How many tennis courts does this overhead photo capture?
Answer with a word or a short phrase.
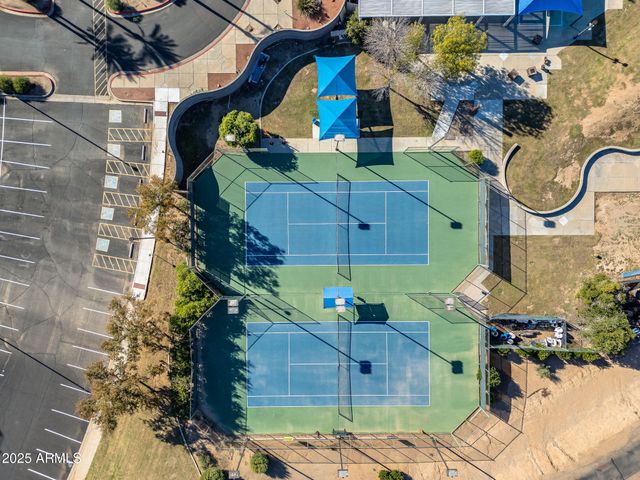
2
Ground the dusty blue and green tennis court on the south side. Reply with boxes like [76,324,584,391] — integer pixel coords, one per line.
[198,293,479,436]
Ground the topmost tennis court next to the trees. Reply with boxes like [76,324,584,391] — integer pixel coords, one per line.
[196,152,478,294]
